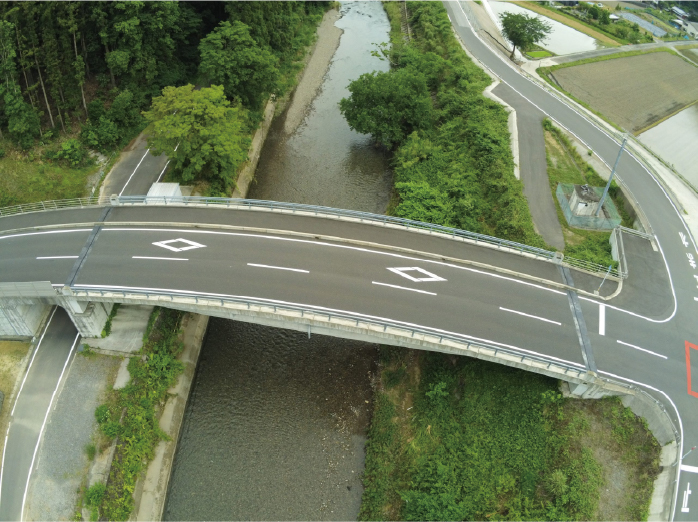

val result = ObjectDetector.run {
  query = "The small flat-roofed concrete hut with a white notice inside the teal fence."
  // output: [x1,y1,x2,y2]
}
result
[570,184,602,215]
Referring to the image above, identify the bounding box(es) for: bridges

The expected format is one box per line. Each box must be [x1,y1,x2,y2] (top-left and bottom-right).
[0,194,626,401]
